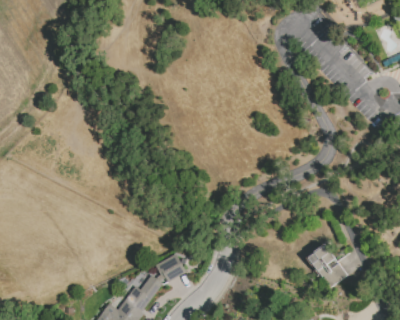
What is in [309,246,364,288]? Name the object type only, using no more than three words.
house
